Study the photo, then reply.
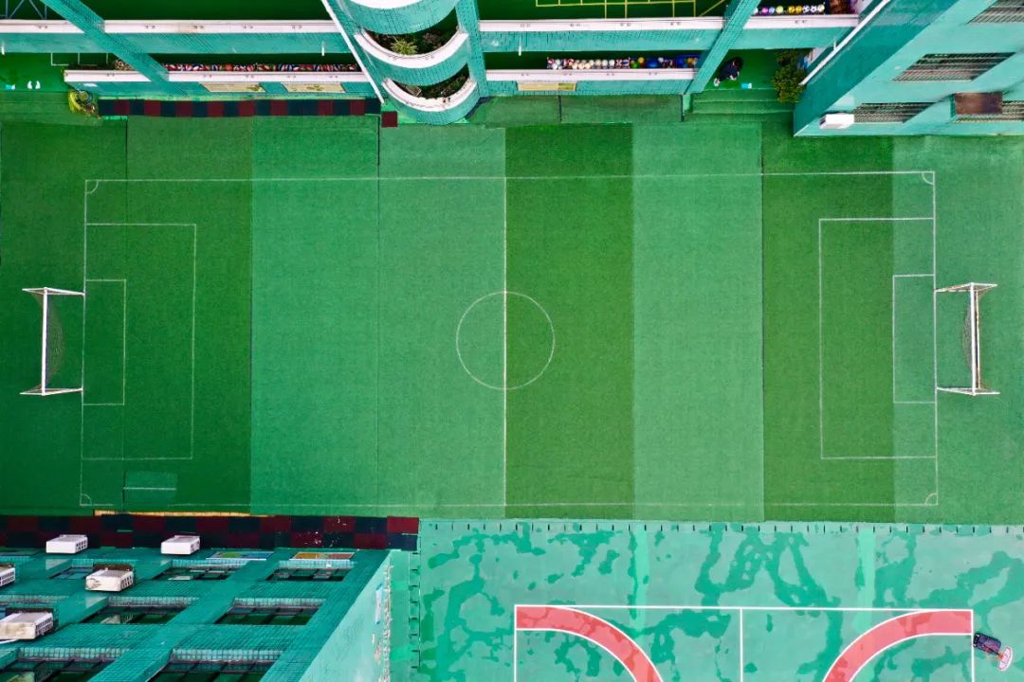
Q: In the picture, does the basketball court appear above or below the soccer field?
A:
below it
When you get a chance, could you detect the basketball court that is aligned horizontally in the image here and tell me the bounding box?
[420,519,1024,682]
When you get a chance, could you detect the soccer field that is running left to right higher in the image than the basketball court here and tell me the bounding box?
[0,117,1024,522]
